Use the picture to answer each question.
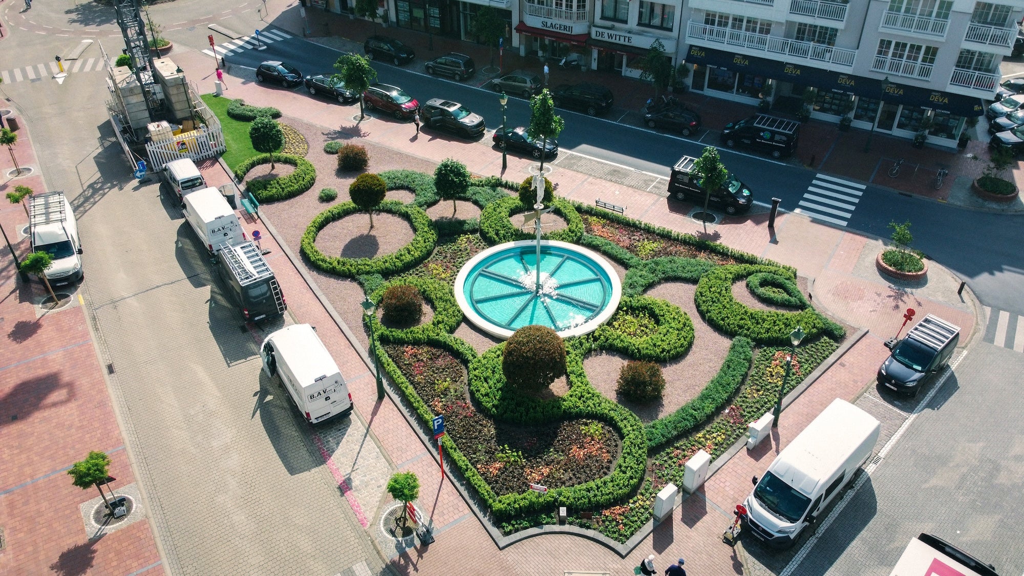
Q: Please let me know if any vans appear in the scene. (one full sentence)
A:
Yes, the frame does contain a van.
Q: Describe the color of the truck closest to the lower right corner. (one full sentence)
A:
In this view, the truck closest to the lower right corner is white.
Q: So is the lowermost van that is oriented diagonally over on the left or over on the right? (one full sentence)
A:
The lowermost van that is oriented diagonally is on the right side of the image.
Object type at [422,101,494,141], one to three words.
car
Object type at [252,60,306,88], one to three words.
car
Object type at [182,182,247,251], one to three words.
van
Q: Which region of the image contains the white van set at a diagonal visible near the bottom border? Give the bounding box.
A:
[742,402,873,554]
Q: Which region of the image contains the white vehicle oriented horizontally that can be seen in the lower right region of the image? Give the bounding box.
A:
[881,530,993,576]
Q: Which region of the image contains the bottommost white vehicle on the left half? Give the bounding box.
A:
[258,328,353,427]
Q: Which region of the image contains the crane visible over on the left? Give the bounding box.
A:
[108,0,200,128]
